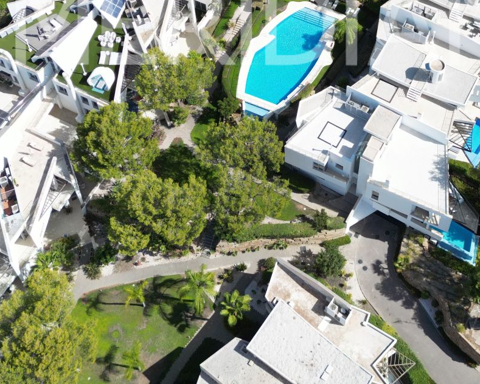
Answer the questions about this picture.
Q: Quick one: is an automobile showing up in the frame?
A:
No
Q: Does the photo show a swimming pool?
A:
Yes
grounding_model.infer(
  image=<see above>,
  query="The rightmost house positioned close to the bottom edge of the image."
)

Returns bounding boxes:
[196,260,416,384]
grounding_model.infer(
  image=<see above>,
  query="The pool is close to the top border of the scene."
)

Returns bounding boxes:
[243,6,340,107]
